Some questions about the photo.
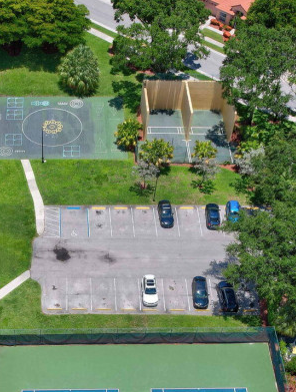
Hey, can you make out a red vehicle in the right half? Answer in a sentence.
No, there's no red vehicle to be seen in the right half.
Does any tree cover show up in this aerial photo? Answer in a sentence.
Yes, there's tree cover in this view.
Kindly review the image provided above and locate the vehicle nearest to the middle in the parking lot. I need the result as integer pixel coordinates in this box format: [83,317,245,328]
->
[158,202,175,230]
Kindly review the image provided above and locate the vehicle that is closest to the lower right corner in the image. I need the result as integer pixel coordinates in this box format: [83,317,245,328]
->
[215,281,238,313]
